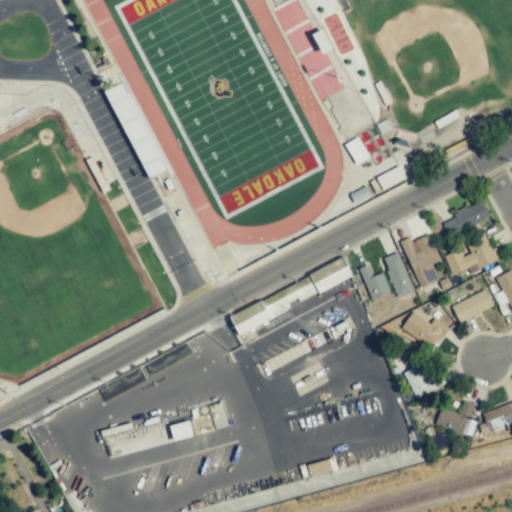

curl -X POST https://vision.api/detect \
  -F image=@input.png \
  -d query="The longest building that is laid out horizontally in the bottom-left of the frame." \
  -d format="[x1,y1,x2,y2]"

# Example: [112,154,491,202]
[101,421,174,458]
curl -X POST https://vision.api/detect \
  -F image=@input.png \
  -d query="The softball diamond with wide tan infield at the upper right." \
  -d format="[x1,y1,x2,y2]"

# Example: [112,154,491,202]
[346,0,512,133]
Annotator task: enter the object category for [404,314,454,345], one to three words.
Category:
house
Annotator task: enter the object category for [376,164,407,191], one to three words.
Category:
shed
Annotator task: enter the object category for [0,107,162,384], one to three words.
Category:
baseball field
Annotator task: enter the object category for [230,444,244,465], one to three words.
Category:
vehicle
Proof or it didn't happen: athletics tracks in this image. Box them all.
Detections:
[86,0,344,248]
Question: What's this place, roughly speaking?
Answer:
sports ground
